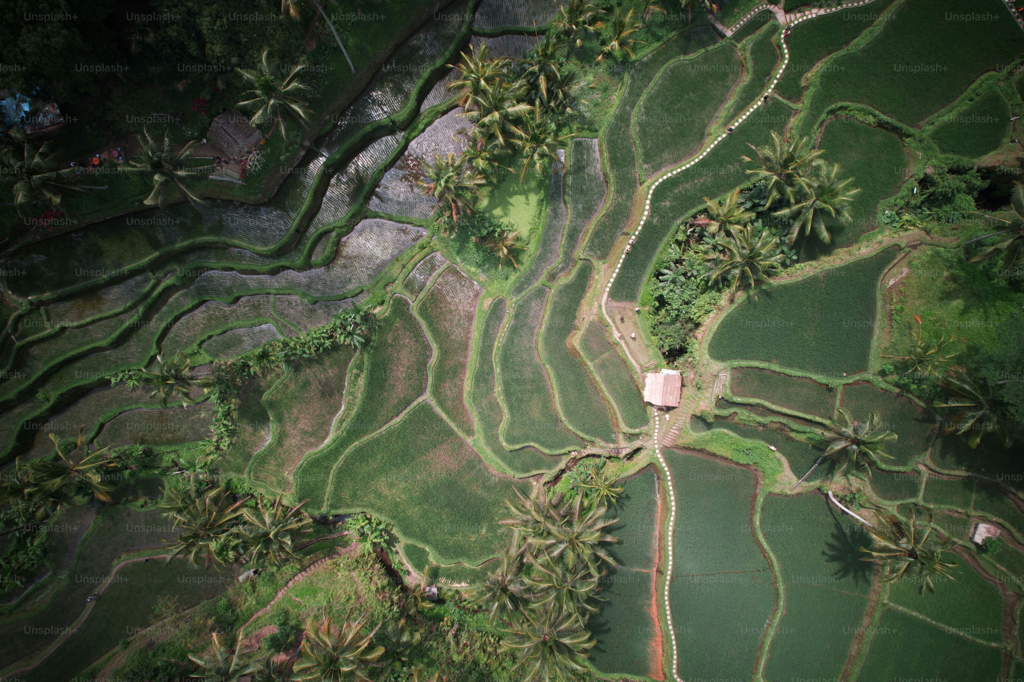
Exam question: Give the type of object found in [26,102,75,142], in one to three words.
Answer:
shed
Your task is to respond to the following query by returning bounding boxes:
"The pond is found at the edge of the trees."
[481,167,545,243]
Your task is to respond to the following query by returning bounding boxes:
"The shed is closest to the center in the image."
[642,371,682,409]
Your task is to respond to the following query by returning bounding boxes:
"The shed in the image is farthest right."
[966,520,1001,546]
